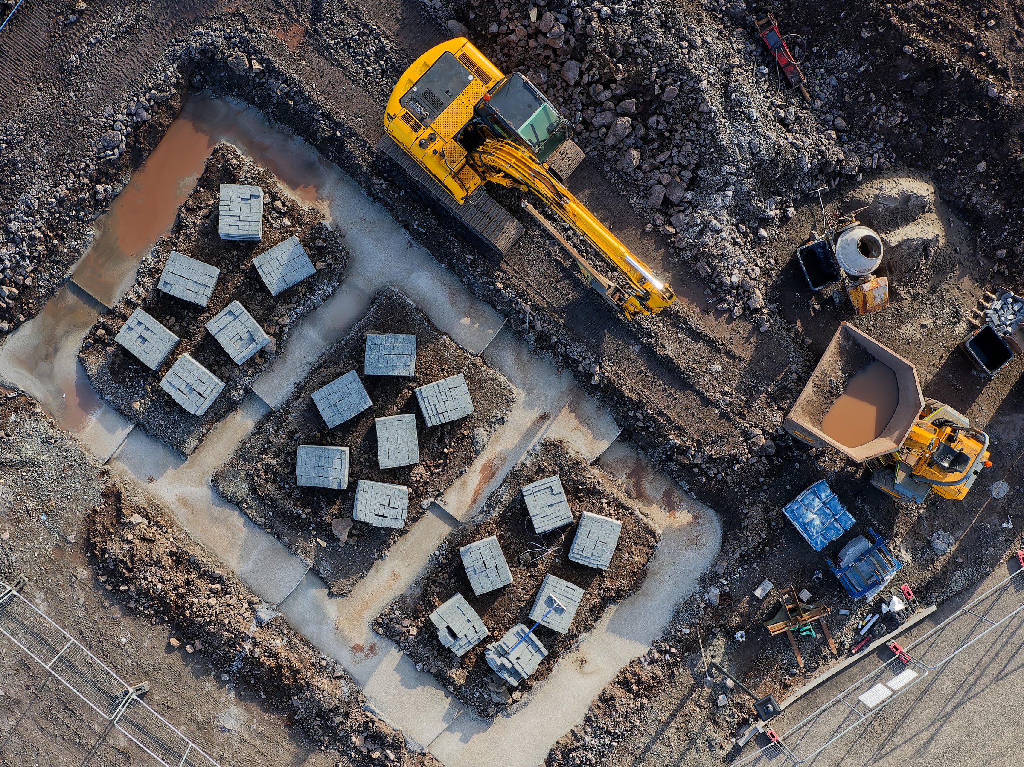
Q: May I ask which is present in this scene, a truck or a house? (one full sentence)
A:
There is a truck in the scene.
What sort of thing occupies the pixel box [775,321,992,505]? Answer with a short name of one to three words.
truck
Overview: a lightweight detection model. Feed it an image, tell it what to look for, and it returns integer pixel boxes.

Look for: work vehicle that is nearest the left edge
[367,38,677,321]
